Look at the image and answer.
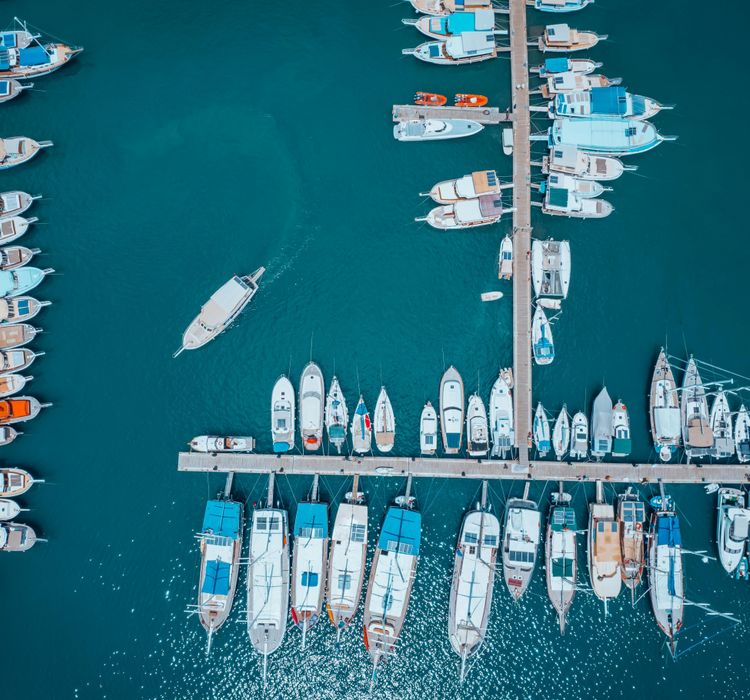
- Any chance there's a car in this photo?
No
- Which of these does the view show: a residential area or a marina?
marina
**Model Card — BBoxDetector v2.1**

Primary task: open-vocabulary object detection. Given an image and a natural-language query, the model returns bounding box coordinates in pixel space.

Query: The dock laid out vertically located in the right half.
[509,0,531,447]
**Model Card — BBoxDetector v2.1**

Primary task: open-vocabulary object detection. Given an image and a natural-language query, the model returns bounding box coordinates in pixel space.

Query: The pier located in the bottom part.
[178,451,750,485]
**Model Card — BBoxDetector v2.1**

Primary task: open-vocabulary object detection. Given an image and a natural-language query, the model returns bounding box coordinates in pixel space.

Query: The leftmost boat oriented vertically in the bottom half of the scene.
[177,472,250,654]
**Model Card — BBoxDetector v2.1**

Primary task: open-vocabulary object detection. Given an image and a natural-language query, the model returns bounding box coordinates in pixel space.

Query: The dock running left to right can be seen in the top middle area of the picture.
[393,105,499,124]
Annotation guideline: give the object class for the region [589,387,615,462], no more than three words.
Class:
boat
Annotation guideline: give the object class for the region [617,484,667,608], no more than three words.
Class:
boat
